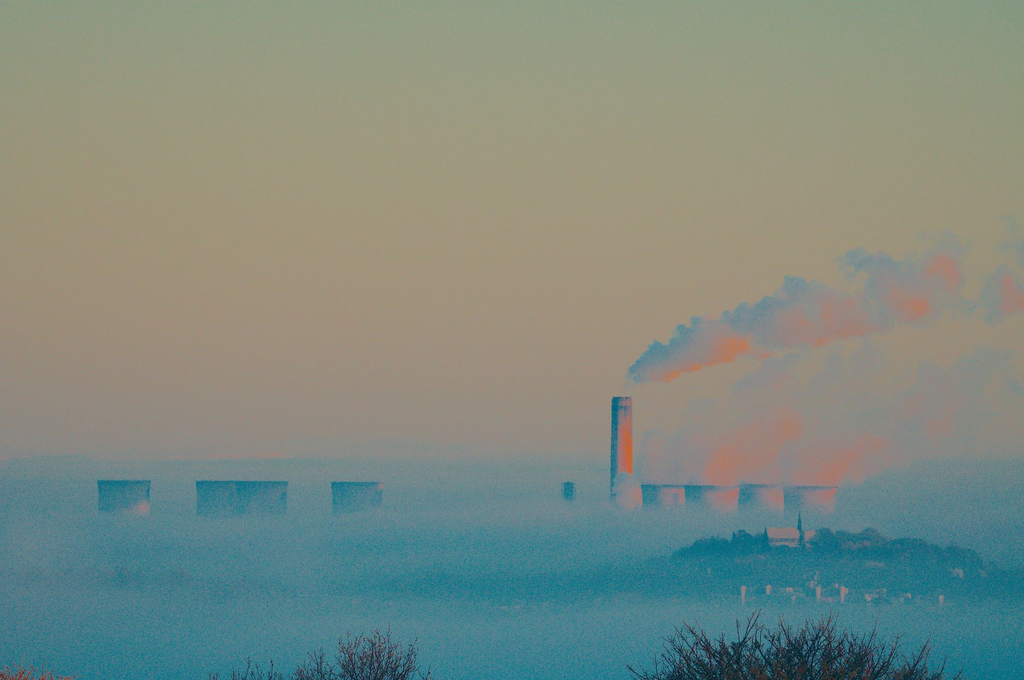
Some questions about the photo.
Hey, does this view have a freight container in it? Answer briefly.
No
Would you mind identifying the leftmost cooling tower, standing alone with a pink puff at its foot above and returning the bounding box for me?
[84,481,165,566]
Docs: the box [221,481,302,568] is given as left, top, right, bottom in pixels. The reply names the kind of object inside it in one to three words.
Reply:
cooling tower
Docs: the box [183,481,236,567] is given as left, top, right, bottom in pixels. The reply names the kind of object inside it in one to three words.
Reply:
cooling tower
